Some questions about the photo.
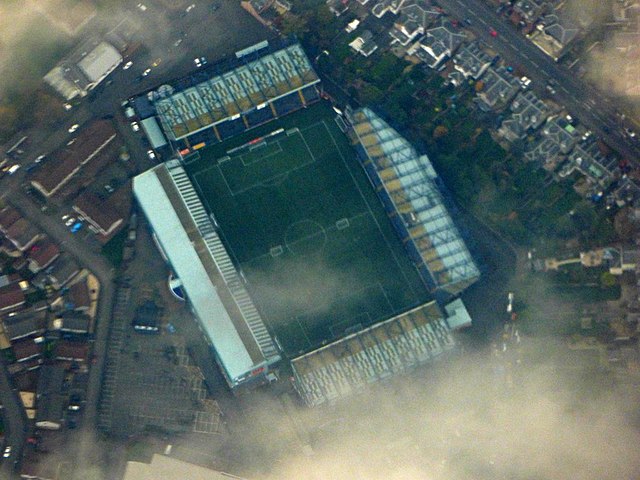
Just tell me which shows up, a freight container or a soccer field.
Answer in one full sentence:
Of the two, only a soccer field appears.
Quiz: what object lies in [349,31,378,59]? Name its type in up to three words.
house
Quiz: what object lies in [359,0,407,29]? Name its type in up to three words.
house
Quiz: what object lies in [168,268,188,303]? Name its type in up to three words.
building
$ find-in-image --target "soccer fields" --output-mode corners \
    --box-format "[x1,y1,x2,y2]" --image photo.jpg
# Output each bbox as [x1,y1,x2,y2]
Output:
[182,103,430,372]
